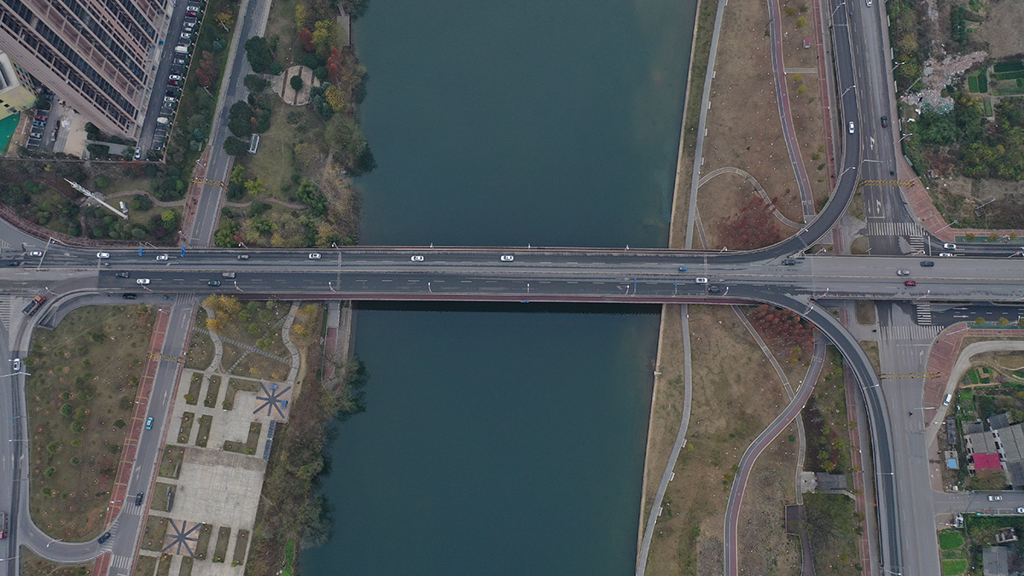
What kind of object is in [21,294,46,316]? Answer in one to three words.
truck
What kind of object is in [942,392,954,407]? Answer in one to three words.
vehicle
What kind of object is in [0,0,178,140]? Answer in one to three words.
building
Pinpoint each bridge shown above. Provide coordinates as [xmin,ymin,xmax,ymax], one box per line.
[0,219,1024,308]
